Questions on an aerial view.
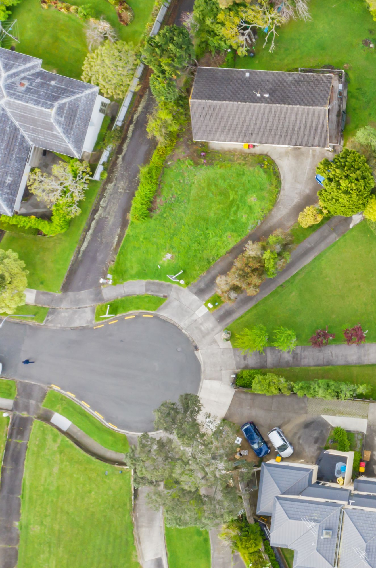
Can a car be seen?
Yes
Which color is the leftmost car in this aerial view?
blue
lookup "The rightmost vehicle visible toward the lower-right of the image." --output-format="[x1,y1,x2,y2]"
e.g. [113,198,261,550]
[267,427,292,459]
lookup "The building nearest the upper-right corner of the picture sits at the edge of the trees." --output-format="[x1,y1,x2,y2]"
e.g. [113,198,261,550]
[190,66,352,152]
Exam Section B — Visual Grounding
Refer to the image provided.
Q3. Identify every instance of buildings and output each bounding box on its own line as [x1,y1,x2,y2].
[0,46,111,217]
[190,66,352,152]
[256,448,355,568]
